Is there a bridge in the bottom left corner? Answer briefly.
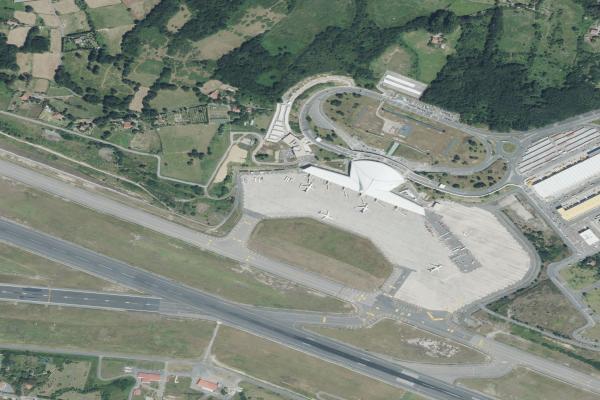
No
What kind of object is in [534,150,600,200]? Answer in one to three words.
hangar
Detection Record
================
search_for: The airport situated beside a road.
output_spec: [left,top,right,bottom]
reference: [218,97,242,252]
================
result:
[0,159,600,400]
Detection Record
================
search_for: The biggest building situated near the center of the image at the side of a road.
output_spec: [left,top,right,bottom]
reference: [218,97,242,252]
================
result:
[303,159,425,216]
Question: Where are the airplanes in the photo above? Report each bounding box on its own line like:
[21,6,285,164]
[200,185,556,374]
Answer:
[321,210,333,221]
[360,204,369,214]
[431,264,442,275]
[304,183,313,193]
